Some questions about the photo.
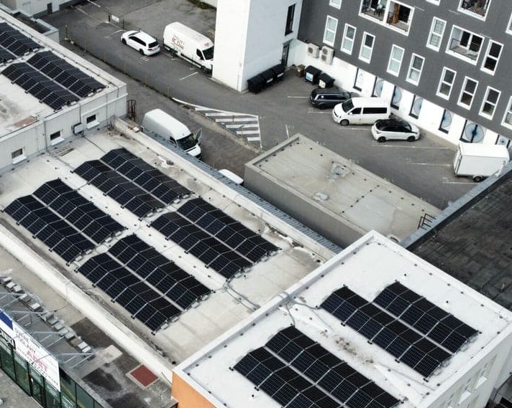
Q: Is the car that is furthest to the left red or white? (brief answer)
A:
white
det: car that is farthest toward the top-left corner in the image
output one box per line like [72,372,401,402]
[120,30,163,56]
